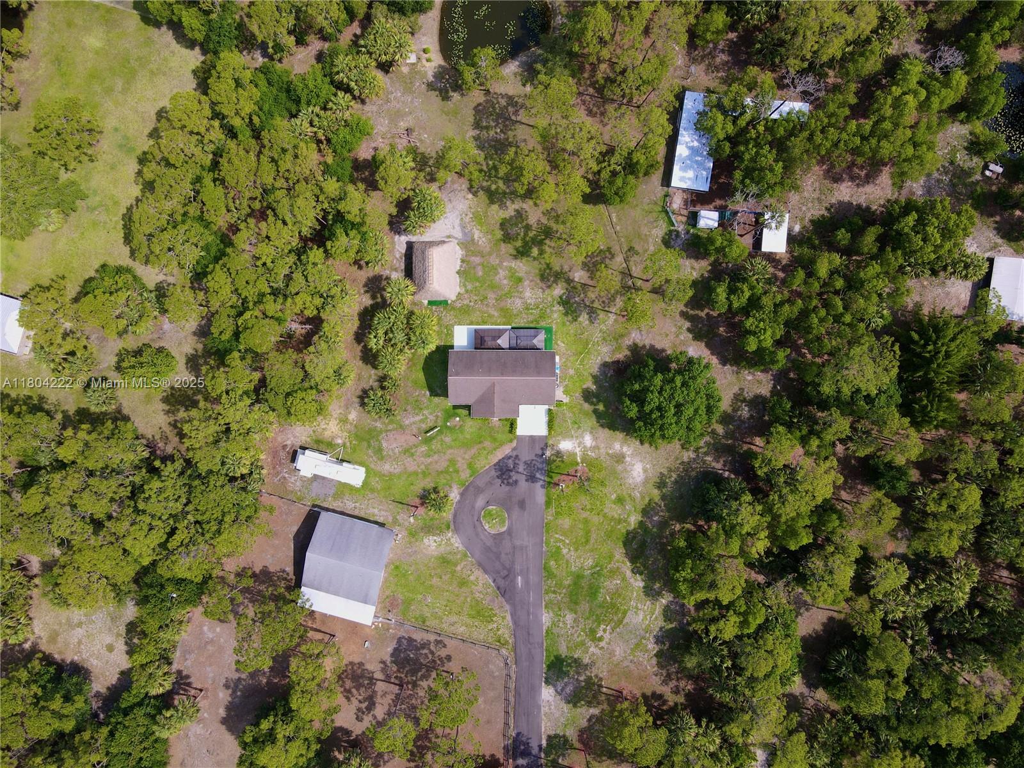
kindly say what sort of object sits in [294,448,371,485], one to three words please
trailer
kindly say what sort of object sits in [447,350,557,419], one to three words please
house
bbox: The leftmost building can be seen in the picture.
[0,295,34,354]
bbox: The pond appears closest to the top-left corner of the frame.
[439,0,552,72]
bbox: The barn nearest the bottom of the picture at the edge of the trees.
[299,508,396,625]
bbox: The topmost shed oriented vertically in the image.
[667,91,721,195]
